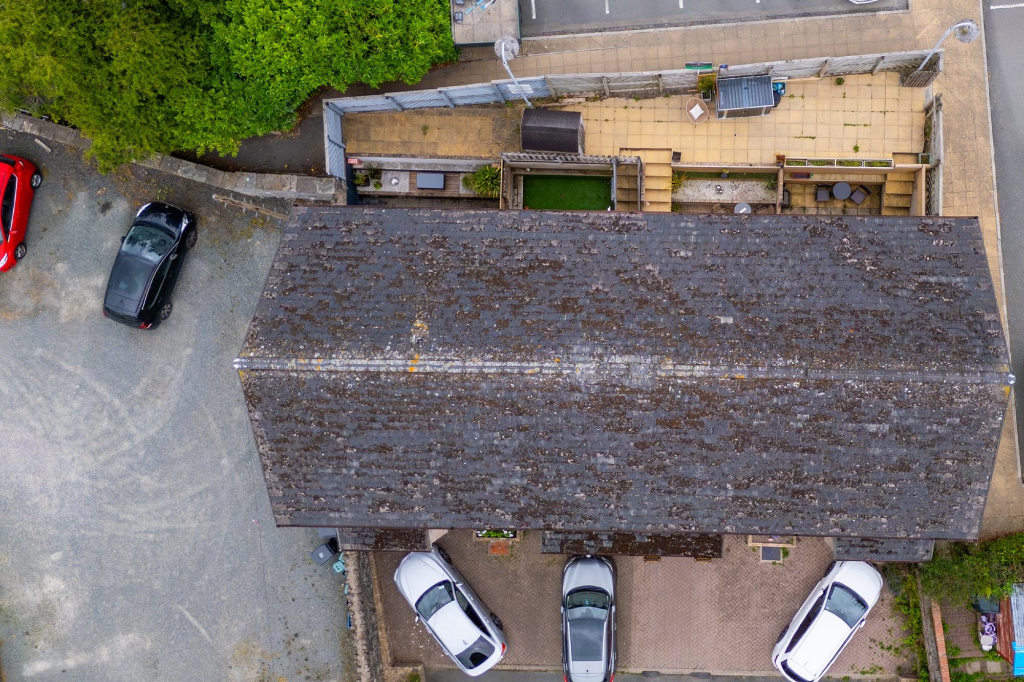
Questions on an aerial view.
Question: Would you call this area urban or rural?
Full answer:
The land in this view is best described as urban.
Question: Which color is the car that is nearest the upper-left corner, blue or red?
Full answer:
The car that is nearest the upper-left corner looks red in the image.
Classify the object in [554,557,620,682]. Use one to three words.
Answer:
car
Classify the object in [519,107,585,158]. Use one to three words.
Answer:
shed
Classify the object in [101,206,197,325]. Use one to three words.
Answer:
car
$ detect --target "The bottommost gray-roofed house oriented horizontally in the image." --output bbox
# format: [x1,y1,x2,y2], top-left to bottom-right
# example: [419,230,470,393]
[232,202,1019,564]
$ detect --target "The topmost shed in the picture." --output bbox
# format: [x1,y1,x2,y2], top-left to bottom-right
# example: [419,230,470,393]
[717,74,774,117]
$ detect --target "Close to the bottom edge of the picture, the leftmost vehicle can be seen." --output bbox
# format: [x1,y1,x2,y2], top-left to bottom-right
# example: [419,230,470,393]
[402,550,506,679]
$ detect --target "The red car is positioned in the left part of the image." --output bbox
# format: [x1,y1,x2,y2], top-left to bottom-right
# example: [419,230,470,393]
[0,153,49,269]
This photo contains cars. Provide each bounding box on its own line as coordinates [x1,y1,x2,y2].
[0,153,49,269]
[402,550,506,679]
[773,562,877,682]
[554,557,620,682]
[101,206,197,325]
